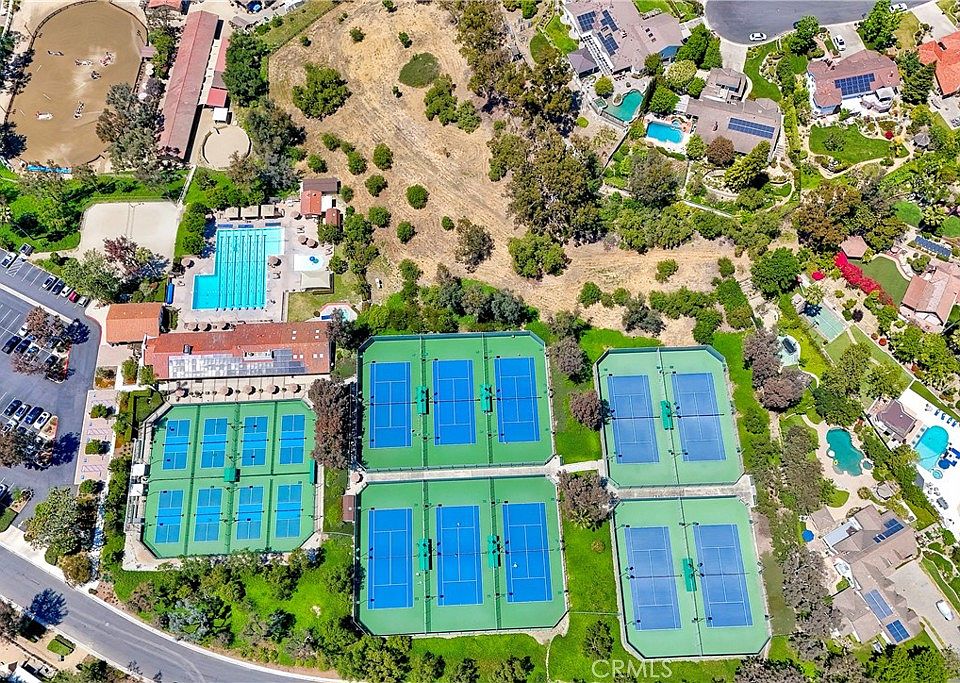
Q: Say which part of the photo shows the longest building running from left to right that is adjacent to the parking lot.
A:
left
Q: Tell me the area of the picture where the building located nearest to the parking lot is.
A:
left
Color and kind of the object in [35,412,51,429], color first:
white car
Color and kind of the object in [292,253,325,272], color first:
white swimming pool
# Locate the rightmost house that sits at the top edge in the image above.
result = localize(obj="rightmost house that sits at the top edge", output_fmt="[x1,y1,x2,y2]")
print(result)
[918,32,960,100]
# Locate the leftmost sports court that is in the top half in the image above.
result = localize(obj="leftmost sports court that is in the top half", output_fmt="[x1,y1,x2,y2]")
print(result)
[79,200,180,270]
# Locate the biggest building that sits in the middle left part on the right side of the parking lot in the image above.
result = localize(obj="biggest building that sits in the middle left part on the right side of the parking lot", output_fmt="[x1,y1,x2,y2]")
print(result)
[141,322,330,380]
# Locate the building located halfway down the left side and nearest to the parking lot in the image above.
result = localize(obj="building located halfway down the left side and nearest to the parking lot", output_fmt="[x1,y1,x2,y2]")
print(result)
[102,303,164,344]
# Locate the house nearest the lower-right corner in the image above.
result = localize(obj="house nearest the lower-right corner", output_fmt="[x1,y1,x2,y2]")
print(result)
[831,505,922,644]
